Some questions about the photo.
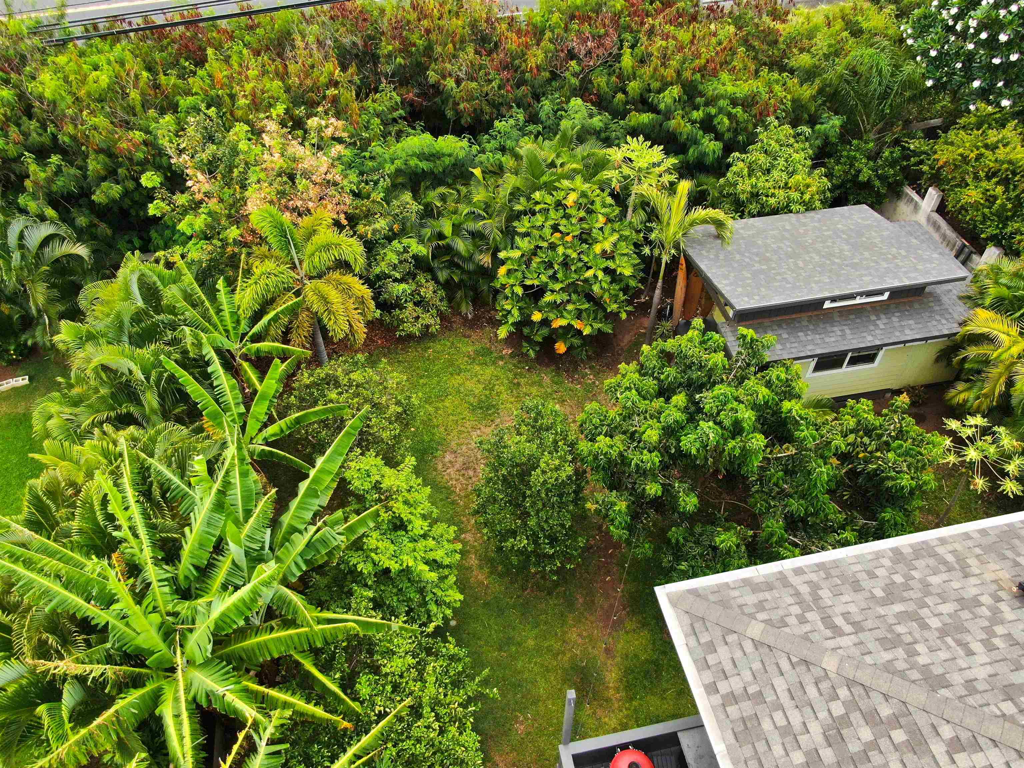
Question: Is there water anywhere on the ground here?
No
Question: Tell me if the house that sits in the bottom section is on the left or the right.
right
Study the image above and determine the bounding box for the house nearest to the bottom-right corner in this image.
[641,502,1024,768]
